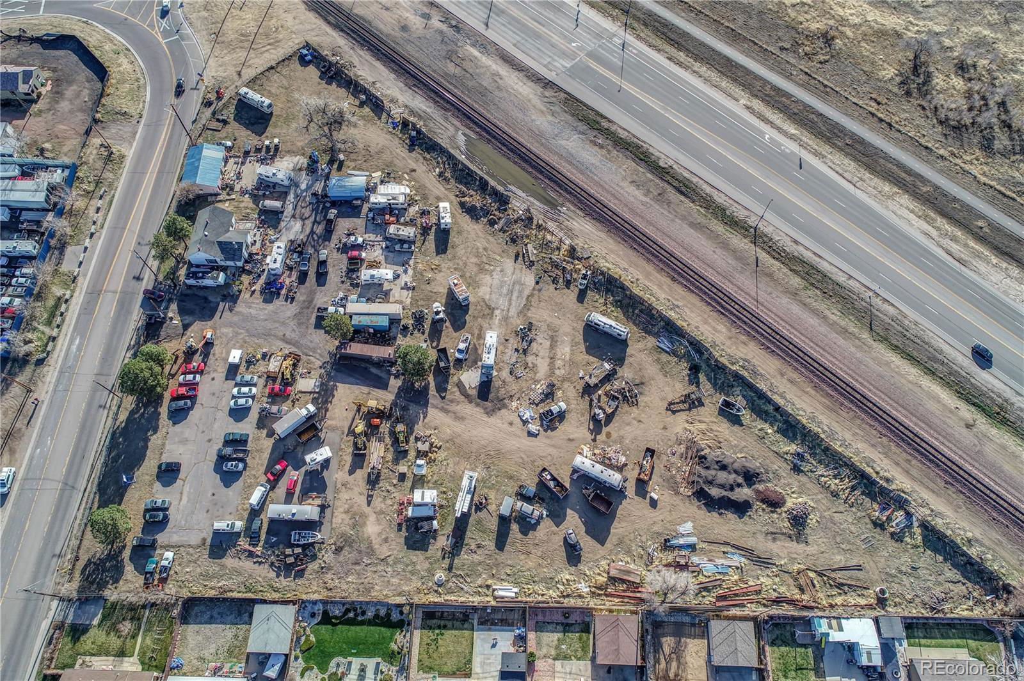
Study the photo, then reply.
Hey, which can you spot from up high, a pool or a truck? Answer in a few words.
truck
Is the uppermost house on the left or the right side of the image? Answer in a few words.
left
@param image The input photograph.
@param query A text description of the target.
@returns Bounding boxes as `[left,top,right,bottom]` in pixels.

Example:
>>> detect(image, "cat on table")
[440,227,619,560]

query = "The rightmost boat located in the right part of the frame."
[718,396,744,415]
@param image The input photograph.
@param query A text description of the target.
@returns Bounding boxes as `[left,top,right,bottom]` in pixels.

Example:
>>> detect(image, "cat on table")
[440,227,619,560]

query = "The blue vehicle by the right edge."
[970,343,993,361]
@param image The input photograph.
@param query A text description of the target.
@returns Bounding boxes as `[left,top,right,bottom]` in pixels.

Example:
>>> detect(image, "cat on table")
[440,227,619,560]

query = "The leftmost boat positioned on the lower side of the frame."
[289,530,327,545]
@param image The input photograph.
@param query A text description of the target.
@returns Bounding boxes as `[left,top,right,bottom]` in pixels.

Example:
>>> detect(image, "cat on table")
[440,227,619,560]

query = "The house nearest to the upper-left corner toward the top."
[0,71,46,101]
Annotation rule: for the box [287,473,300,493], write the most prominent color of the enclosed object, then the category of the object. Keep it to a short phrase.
red vehicle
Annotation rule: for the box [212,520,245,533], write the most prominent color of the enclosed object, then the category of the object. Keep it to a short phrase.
white vehicle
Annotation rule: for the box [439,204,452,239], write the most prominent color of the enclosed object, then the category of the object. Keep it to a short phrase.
white vehicle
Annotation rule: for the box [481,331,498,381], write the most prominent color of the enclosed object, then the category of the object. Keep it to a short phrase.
white camper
